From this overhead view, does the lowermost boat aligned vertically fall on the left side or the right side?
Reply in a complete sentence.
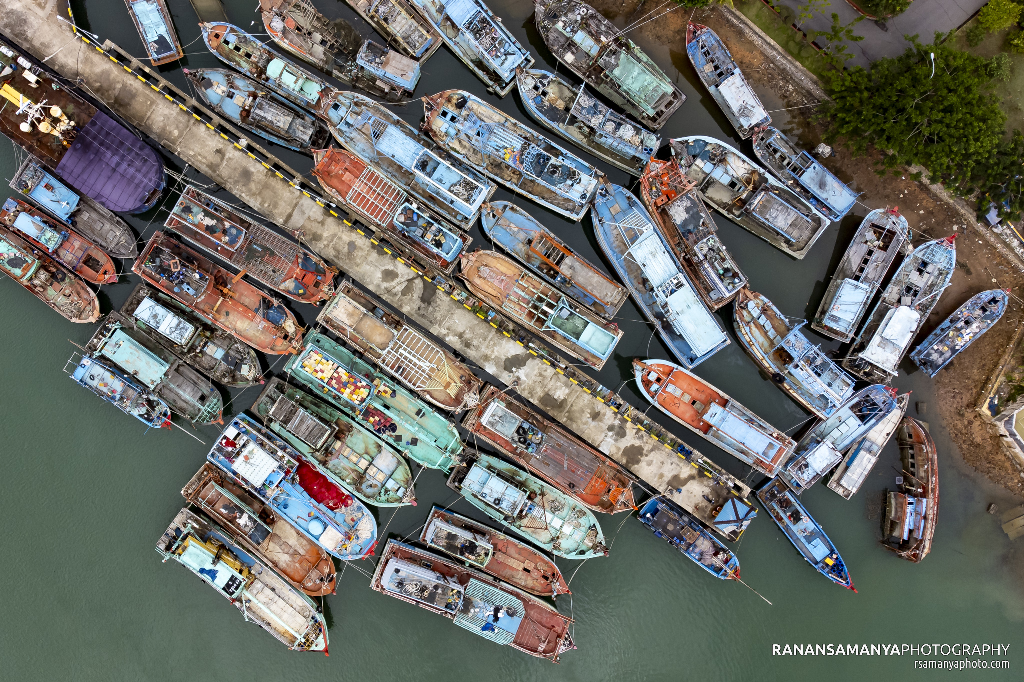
It is on the right.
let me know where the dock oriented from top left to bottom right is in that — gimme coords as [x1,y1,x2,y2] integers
[0,0,756,543]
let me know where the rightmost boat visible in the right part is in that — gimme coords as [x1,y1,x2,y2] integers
[909,286,1013,378]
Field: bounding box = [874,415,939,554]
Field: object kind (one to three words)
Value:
boat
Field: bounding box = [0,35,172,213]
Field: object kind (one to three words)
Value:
ship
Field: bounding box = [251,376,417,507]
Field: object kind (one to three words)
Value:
boat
